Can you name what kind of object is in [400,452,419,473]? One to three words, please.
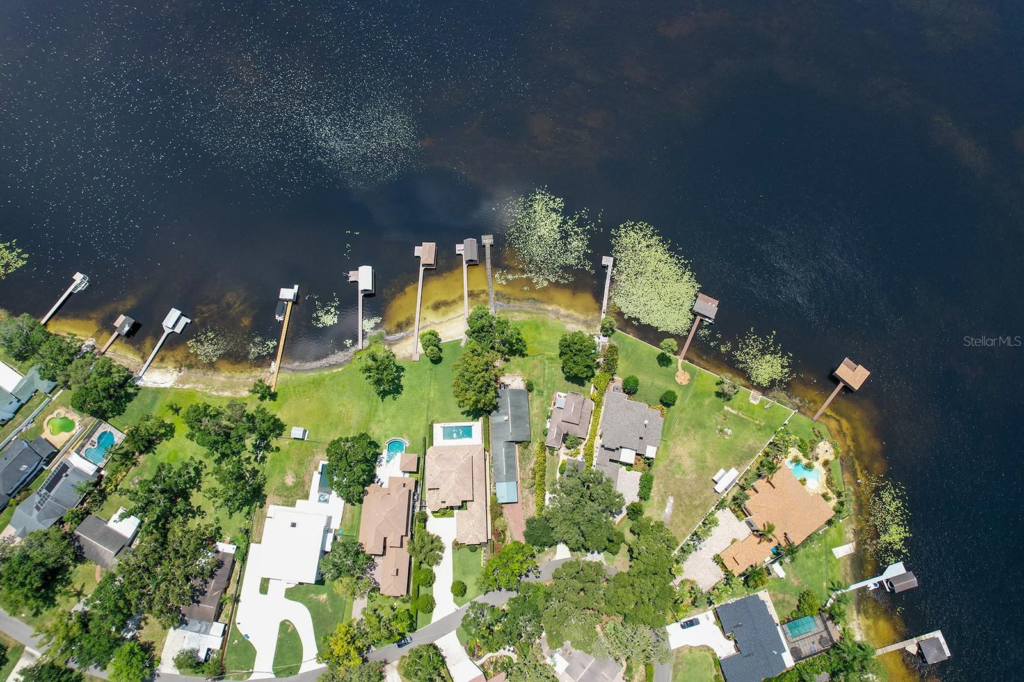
building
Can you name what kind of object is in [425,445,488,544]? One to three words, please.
house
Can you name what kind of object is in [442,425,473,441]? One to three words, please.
swimming pool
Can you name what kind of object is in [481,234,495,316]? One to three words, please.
pier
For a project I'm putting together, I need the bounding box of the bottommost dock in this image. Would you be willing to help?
[875,629,952,665]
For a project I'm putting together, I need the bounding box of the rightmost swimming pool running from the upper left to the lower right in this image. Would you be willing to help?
[786,459,821,490]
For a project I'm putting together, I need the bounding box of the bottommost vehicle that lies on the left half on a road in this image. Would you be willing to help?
[394,635,413,649]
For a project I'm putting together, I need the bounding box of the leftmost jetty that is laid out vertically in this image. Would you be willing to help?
[271,284,300,393]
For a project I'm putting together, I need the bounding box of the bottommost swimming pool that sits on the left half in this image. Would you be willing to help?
[317,464,336,503]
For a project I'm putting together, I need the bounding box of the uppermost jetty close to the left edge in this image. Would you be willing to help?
[43,271,90,320]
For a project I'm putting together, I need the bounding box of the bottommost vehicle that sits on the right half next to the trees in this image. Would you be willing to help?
[680,617,700,629]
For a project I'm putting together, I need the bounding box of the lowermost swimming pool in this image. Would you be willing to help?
[785,614,818,639]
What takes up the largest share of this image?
water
